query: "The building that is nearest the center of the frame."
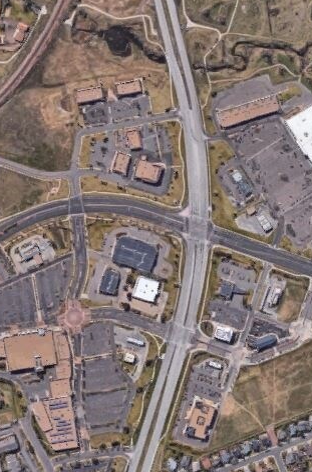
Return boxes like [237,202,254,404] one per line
[112,237,160,273]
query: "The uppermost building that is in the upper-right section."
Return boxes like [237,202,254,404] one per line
[217,96,282,127]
